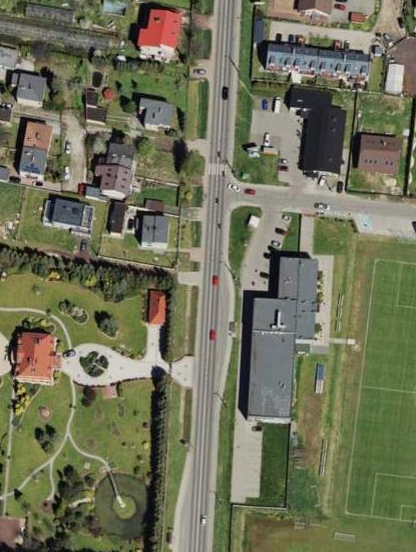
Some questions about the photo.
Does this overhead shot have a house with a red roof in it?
Yes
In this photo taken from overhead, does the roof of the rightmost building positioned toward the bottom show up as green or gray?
gray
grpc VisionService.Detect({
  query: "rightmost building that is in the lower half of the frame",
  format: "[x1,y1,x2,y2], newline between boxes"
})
[248,257,318,423]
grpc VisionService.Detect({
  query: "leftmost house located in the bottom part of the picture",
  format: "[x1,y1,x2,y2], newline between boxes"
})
[14,333,59,383]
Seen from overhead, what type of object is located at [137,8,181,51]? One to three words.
house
